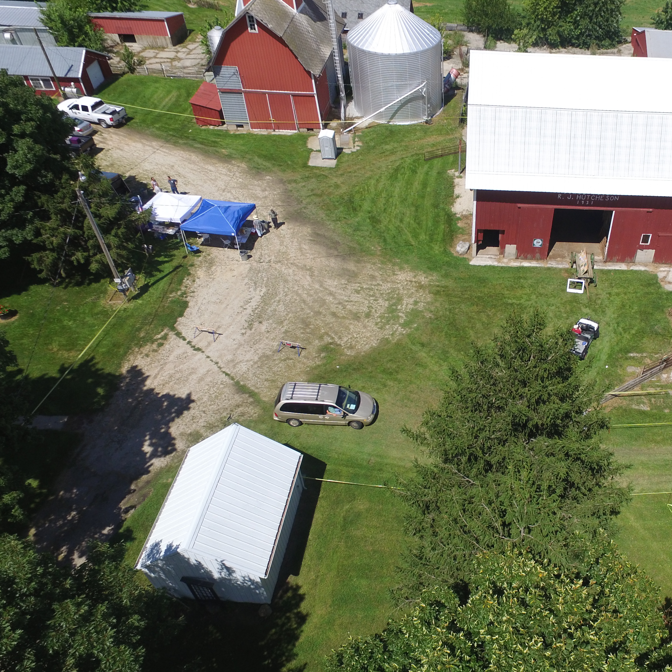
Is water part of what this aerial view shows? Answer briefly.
No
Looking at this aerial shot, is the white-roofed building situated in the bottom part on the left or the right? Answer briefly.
left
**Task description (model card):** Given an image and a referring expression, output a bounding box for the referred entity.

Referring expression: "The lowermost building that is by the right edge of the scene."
[466,50,672,263]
